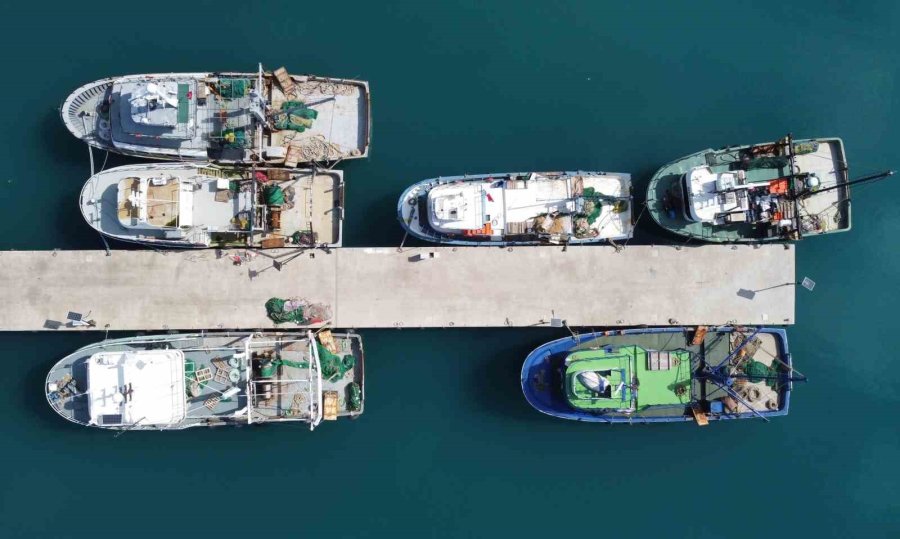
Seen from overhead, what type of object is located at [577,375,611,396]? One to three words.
boat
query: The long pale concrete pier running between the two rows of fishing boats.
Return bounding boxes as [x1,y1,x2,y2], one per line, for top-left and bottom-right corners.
[0,245,795,331]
